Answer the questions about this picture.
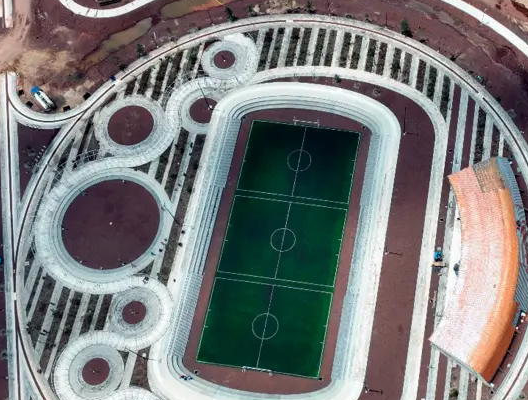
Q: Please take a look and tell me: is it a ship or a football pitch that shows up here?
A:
football pitch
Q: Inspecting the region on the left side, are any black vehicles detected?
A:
No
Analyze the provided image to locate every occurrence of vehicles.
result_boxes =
[26,80,55,111]
[433,244,443,260]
